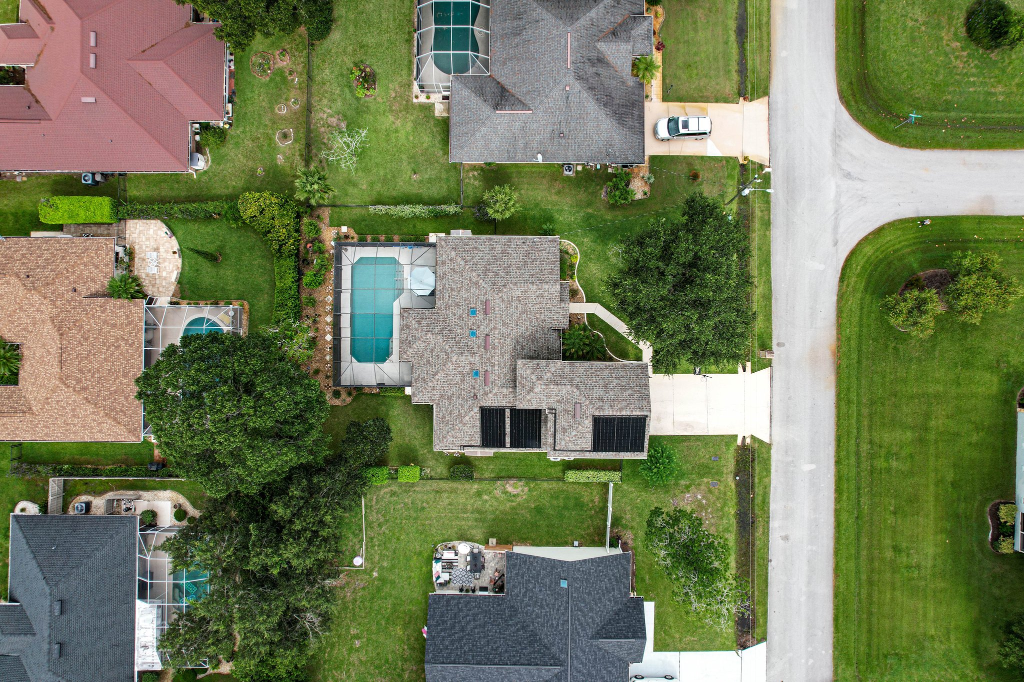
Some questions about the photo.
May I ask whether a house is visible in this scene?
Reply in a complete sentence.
Yes, you can see a house in this photo.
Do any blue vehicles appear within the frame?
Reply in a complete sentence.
No, there is no blue vehicle in the image.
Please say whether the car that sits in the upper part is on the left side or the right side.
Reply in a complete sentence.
The car that sits in the upper part is on the right side of the image.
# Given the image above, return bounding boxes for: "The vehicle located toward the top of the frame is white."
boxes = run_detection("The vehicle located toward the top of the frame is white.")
[655,113,715,144]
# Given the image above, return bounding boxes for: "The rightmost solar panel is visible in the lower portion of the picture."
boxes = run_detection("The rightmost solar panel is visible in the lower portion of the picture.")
[592,416,647,452]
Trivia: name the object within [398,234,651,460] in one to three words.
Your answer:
house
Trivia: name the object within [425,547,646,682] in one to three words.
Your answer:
house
